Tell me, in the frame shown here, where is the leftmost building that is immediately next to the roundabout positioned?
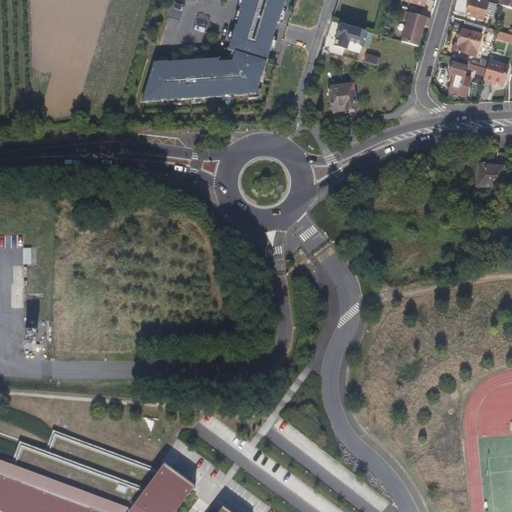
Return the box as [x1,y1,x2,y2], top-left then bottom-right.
[142,0,284,104]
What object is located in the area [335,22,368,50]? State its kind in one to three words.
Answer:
house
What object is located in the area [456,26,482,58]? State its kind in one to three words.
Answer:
house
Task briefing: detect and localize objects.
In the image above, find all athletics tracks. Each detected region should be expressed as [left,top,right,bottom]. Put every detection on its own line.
[462,370,512,512]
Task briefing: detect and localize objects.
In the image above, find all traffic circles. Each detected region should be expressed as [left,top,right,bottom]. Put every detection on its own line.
[215,132,315,232]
